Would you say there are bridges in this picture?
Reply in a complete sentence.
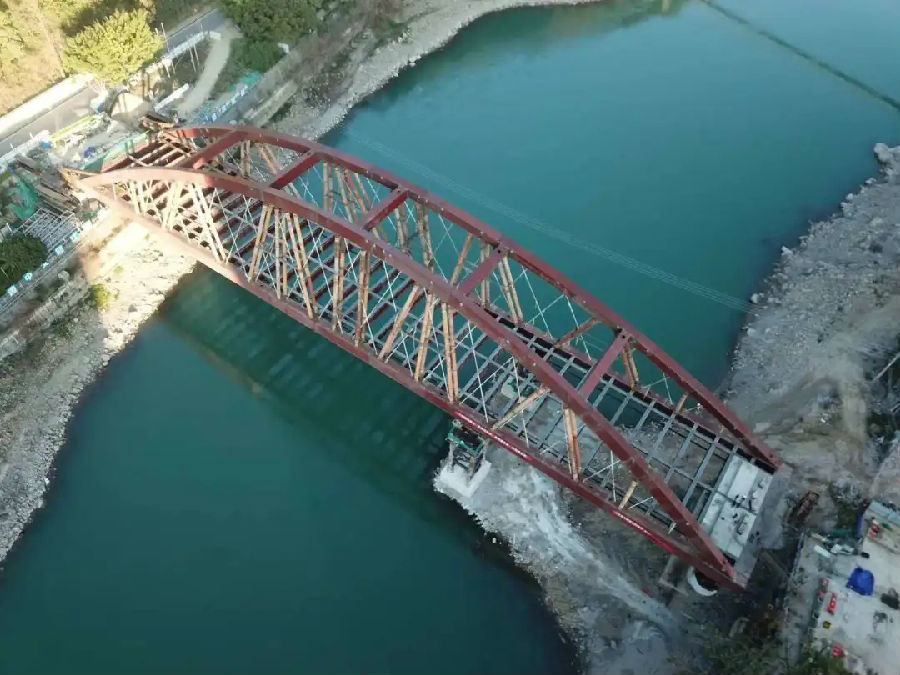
Yes, a bridge appears in the view.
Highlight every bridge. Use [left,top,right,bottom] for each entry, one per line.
[74,120,788,592]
